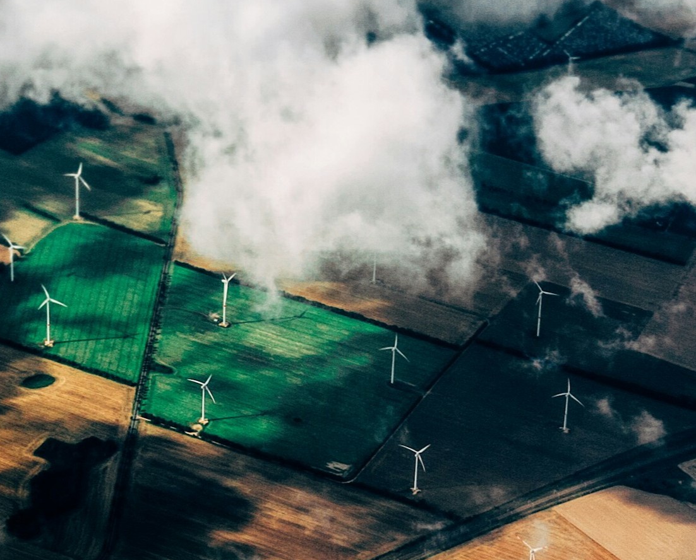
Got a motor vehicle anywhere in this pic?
No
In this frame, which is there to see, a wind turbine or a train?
wind turbine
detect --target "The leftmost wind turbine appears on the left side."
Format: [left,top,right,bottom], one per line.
[0,234,26,280]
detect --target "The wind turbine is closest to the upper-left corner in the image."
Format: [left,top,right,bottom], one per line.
[60,163,84,218]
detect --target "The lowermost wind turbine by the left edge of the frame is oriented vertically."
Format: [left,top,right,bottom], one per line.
[34,283,62,343]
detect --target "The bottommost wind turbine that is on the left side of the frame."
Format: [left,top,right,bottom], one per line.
[186,376,211,417]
